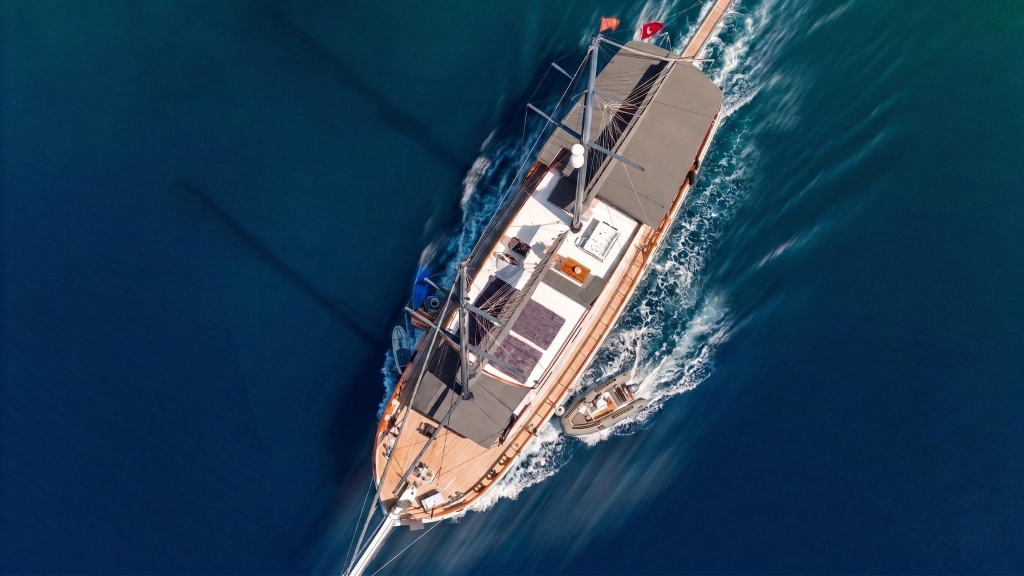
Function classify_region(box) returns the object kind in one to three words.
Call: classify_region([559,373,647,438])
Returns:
boat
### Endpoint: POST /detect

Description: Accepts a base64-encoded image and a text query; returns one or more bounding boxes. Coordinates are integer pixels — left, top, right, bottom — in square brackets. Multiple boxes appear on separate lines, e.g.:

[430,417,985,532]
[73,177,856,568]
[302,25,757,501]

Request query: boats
[336,0,735,576]
[559,373,647,438]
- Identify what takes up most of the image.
water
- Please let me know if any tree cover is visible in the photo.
No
